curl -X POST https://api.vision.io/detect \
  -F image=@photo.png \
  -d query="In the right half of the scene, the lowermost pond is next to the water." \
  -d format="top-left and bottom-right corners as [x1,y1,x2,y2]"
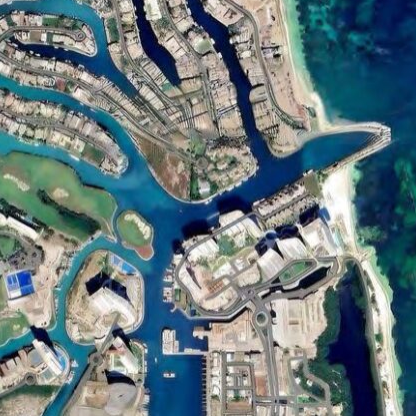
[325,263,378,416]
